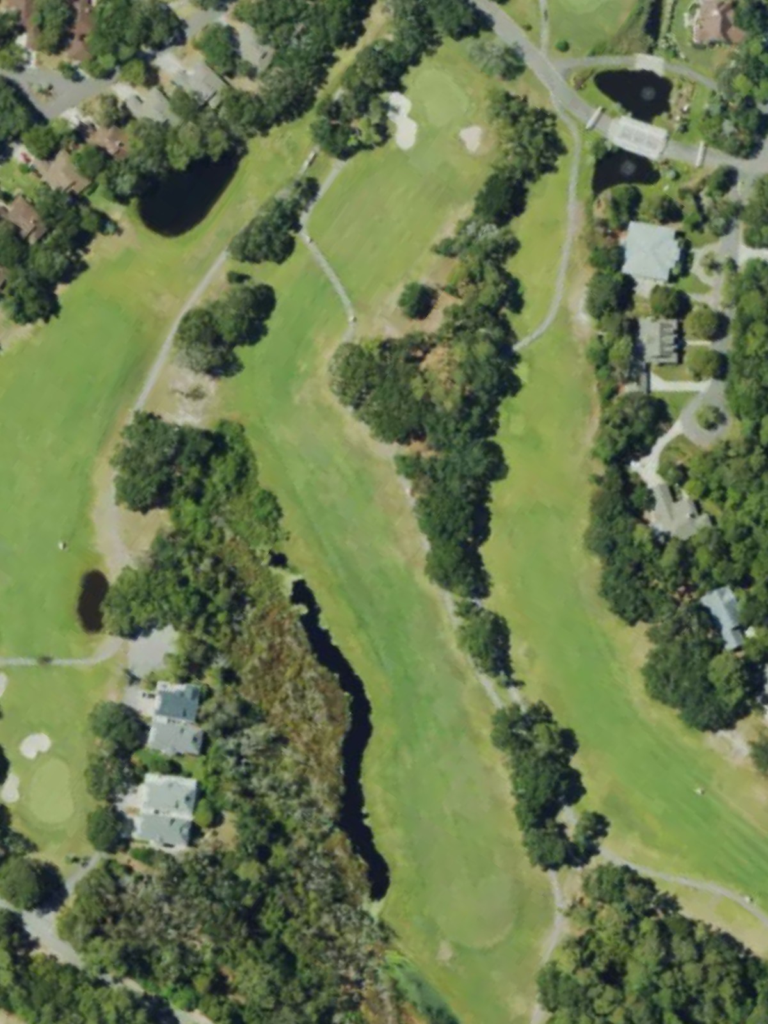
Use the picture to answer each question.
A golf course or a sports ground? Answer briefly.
golf course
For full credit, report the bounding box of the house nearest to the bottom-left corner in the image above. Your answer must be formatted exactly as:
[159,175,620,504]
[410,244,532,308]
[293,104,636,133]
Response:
[130,811,191,851]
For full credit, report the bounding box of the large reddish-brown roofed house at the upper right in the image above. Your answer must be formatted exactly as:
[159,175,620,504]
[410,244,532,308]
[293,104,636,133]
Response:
[694,0,748,42]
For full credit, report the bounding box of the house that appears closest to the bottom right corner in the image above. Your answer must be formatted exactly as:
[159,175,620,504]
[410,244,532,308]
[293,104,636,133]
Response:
[699,582,747,650]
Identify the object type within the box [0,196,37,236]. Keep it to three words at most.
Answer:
house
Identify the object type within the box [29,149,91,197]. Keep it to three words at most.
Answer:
house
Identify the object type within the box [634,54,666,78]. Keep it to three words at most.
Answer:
bridge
